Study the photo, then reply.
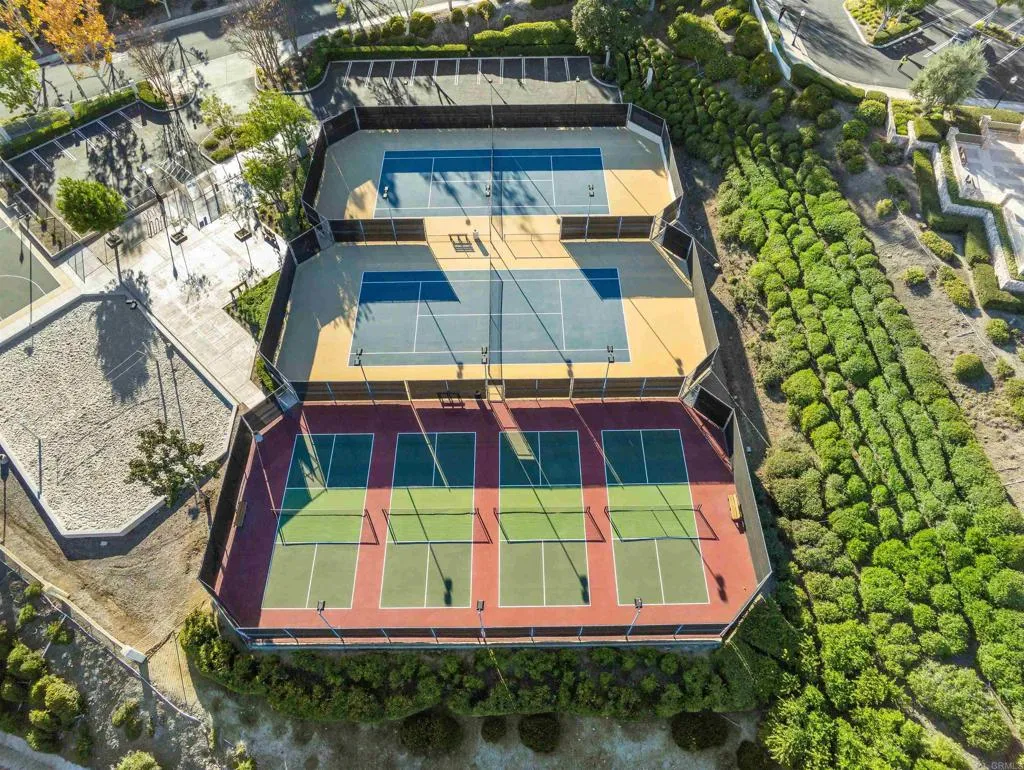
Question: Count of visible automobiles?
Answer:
1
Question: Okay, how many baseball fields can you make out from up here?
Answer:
0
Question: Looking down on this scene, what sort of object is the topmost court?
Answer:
tennis court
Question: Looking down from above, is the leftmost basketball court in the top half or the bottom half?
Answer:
top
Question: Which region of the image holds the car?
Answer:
top right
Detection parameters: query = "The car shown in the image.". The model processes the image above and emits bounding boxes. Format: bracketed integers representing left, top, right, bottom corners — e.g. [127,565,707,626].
[953,22,986,44]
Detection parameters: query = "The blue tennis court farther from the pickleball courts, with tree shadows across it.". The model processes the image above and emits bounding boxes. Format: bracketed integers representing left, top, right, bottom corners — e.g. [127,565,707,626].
[373,147,610,218]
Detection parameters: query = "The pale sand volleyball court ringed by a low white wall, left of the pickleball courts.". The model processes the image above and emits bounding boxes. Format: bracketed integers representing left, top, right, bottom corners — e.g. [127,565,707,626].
[0,290,243,542]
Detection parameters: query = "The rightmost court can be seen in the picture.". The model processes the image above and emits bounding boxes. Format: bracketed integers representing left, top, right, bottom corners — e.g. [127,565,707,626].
[602,430,711,605]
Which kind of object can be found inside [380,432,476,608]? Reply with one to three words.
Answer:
sports court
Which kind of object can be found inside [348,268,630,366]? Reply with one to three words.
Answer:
tennis court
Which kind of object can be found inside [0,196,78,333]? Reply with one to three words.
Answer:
basketball court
